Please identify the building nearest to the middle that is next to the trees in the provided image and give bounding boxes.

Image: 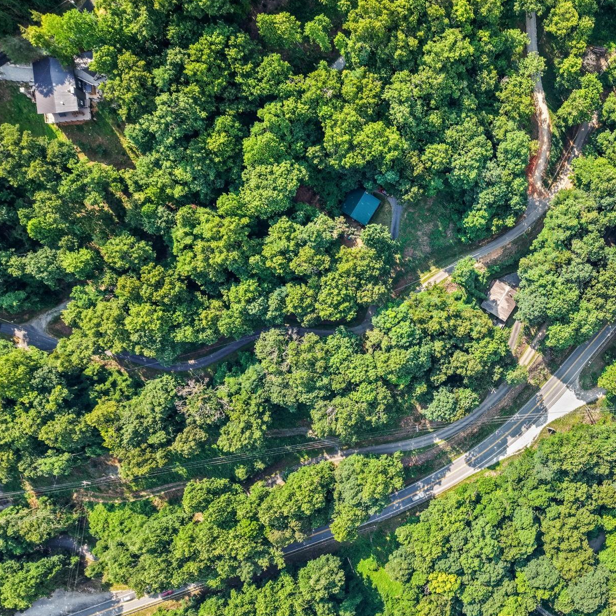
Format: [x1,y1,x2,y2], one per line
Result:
[342,189,381,226]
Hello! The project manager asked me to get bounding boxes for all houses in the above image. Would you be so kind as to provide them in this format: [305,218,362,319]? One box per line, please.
[481,280,520,330]
[342,189,381,226]
[20,57,104,125]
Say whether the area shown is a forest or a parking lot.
forest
